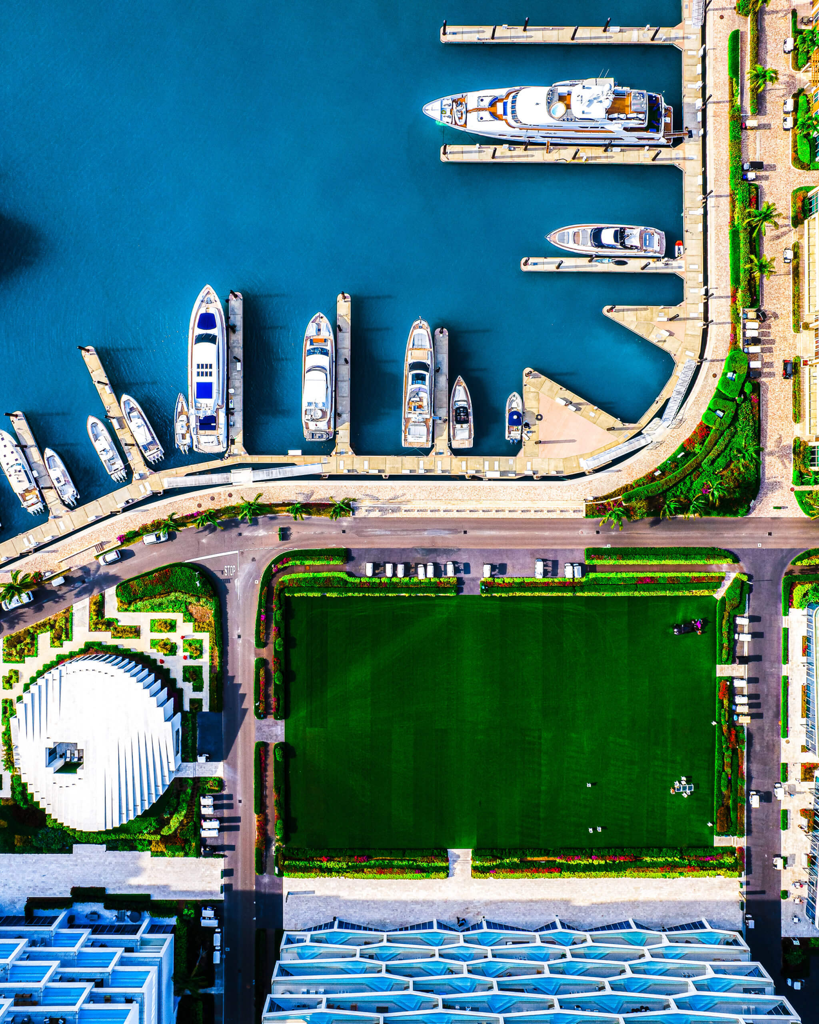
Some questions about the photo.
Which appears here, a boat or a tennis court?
boat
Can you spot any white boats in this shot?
Yes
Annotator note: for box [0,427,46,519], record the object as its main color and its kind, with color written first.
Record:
white boat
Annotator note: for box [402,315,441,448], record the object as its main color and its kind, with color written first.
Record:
white boat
